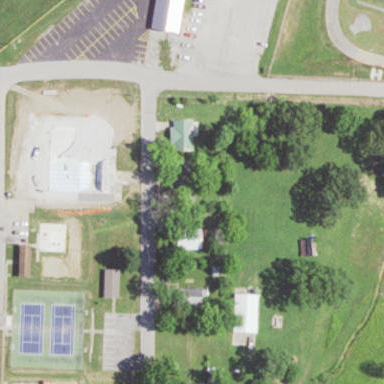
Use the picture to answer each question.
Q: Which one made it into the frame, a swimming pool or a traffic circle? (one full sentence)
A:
The image shows a swimming pool.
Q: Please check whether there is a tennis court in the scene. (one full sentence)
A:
Yes, a tennis court appears in the view.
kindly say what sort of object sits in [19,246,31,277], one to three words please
building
